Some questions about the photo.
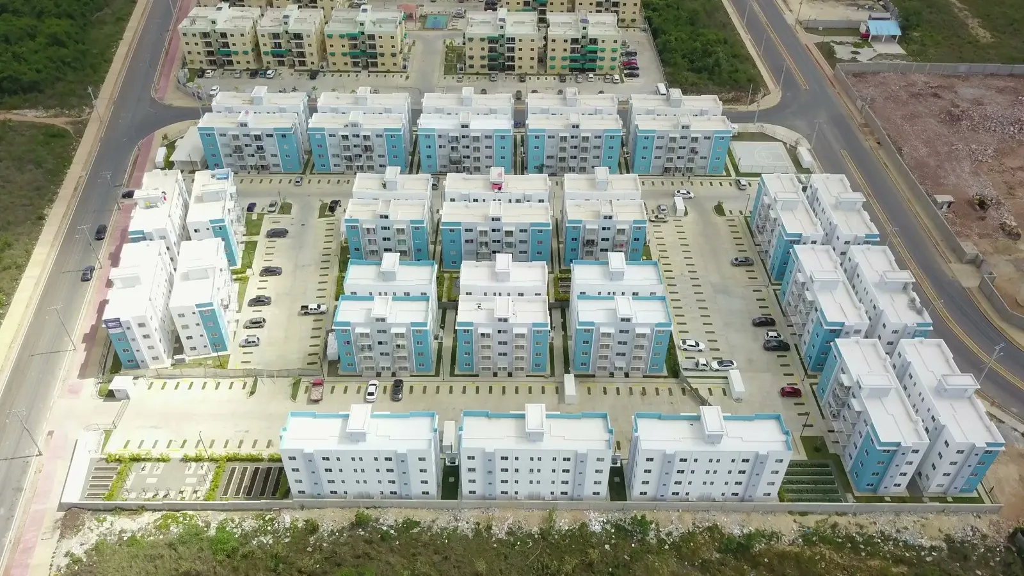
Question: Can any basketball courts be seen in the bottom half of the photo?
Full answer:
No, there is no basketball court in the bottom half of the photo.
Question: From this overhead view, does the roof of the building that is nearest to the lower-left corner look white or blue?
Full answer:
In this view, the roof of the building that is nearest to the lower-left corner is white.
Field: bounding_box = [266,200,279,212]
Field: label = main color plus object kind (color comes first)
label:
gray vehicle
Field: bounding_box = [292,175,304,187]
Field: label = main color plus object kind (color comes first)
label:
gray vehicle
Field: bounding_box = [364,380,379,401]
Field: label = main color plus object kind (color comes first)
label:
white car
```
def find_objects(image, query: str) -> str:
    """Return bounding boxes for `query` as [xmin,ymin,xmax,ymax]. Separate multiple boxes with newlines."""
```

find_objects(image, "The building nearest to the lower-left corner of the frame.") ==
[62,429,111,499]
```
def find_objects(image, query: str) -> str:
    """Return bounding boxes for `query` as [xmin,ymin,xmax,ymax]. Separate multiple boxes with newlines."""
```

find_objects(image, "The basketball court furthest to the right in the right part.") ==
[730,141,796,172]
